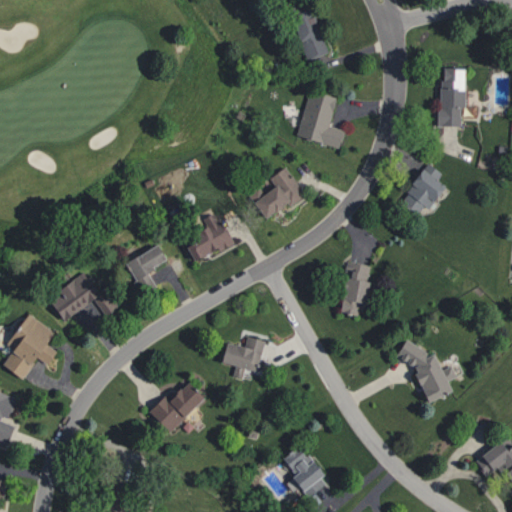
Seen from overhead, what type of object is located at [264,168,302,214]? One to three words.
house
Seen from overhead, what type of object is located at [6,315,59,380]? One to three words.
house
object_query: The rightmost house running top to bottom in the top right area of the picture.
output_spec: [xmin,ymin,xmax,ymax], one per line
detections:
[438,68,467,128]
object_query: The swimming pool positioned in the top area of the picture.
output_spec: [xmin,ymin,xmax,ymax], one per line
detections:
[496,78,510,106]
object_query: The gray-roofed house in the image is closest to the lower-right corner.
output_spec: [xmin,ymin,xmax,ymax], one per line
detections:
[476,436,512,480]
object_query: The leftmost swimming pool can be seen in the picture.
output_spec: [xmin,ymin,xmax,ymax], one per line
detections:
[264,471,288,498]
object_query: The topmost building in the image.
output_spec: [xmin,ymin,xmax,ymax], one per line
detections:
[296,16,329,60]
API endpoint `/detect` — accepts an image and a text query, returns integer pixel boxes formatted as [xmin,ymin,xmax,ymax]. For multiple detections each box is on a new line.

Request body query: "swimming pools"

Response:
[264,471,288,498]
[496,78,510,106]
